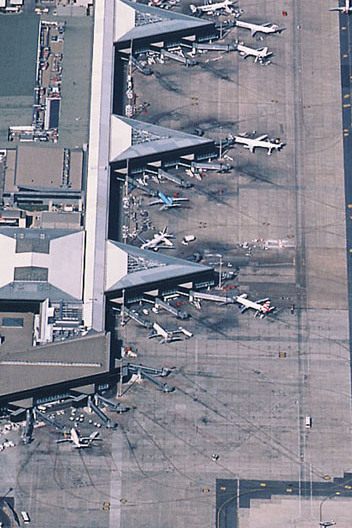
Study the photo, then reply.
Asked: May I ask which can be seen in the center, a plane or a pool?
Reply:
plane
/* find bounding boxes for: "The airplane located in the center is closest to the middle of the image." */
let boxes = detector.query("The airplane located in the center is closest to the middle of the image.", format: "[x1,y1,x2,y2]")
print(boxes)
[144,228,176,248]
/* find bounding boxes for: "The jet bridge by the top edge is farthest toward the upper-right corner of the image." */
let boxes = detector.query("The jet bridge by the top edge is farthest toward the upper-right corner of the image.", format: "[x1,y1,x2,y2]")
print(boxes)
[212,21,237,34]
